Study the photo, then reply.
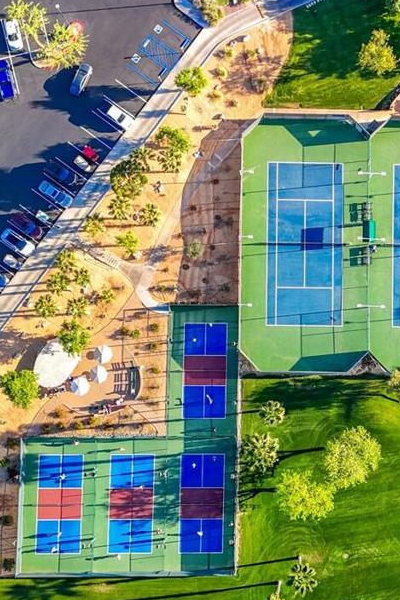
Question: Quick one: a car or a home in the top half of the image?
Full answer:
The one visible in the top half of the image is a car.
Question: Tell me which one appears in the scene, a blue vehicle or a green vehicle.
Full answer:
This aerial view contains a blue vehicle.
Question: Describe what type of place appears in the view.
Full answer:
The area seen from above is a sports ground.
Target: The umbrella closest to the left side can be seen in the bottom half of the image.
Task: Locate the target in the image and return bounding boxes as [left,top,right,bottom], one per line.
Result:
[71,376,90,395]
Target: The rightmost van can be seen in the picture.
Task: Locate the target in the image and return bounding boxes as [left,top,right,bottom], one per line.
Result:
[102,103,136,131]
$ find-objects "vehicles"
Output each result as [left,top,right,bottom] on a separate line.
[102,103,136,131]
[9,211,43,239]
[79,145,101,163]
[72,154,93,172]
[0,252,24,271]
[34,210,56,228]
[0,60,15,100]
[38,180,73,208]
[71,62,93,97]
[5,22,24,53]
[48,157,81,185]
[0,227,35,256]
